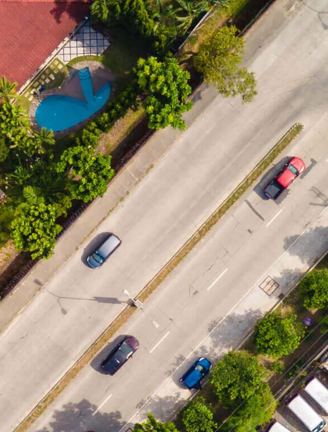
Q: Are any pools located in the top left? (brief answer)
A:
Yes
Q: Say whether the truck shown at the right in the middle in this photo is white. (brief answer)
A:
No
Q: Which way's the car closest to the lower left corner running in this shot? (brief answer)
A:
diagonally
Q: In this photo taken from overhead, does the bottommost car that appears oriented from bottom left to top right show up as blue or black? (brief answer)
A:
blue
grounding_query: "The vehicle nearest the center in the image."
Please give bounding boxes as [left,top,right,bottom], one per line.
[89,233,121,270]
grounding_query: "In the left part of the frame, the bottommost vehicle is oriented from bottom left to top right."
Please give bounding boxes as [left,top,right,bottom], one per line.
[102,336,141,375]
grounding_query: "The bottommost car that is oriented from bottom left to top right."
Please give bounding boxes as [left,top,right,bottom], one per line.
[181,357,211,389]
